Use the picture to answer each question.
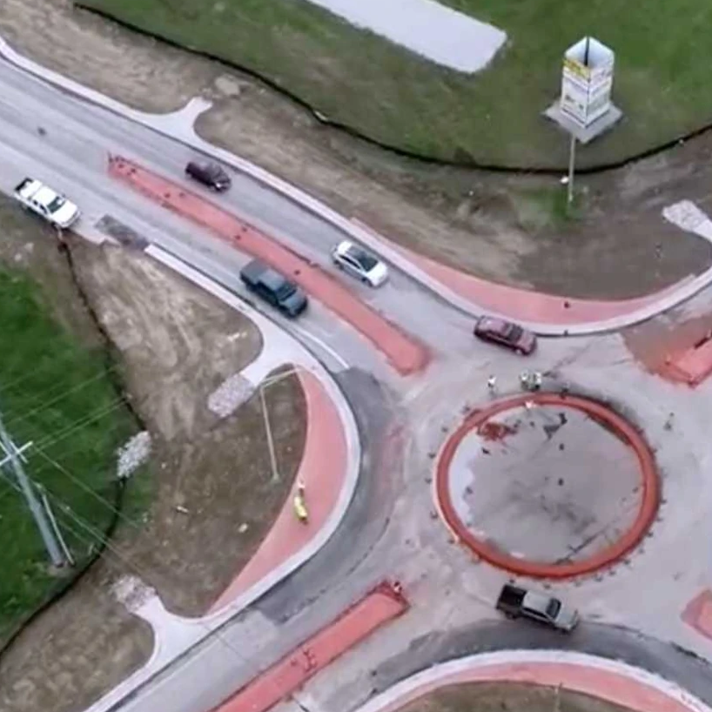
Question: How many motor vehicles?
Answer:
6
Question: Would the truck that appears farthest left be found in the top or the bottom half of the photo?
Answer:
top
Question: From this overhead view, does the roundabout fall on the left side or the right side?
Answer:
right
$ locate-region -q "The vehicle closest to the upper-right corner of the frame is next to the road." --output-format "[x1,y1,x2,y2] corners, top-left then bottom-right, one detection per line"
[472,316,539,359]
